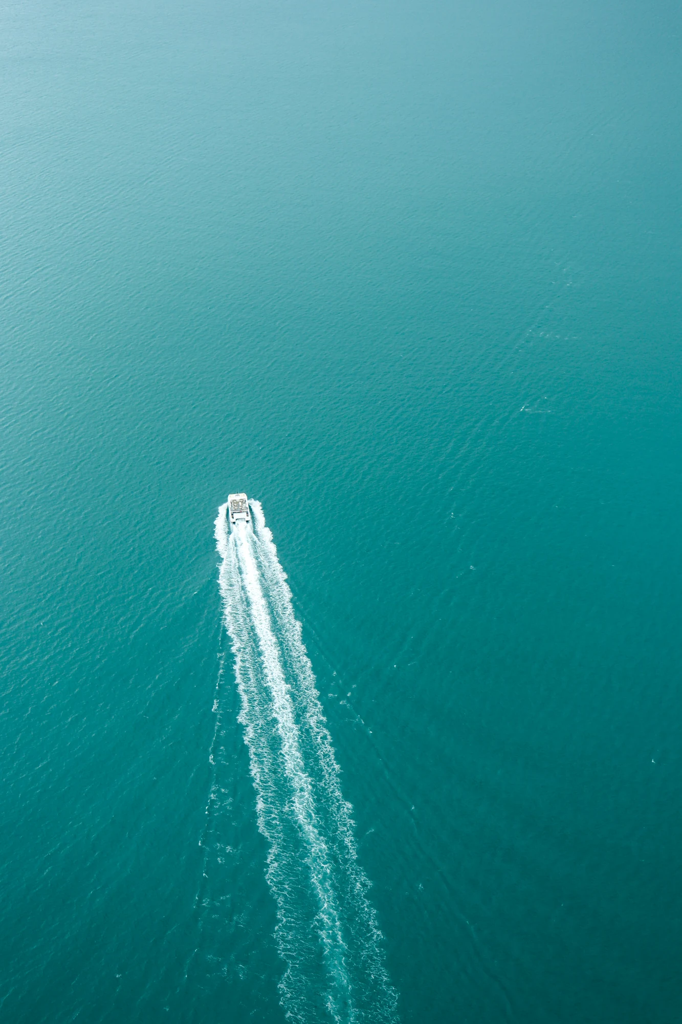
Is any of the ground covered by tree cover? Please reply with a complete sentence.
No, there is no tree cover in the image.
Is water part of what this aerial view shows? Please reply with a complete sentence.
Yes, there is water in the image.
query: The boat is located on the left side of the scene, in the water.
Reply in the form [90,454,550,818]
[230,491,250,523]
